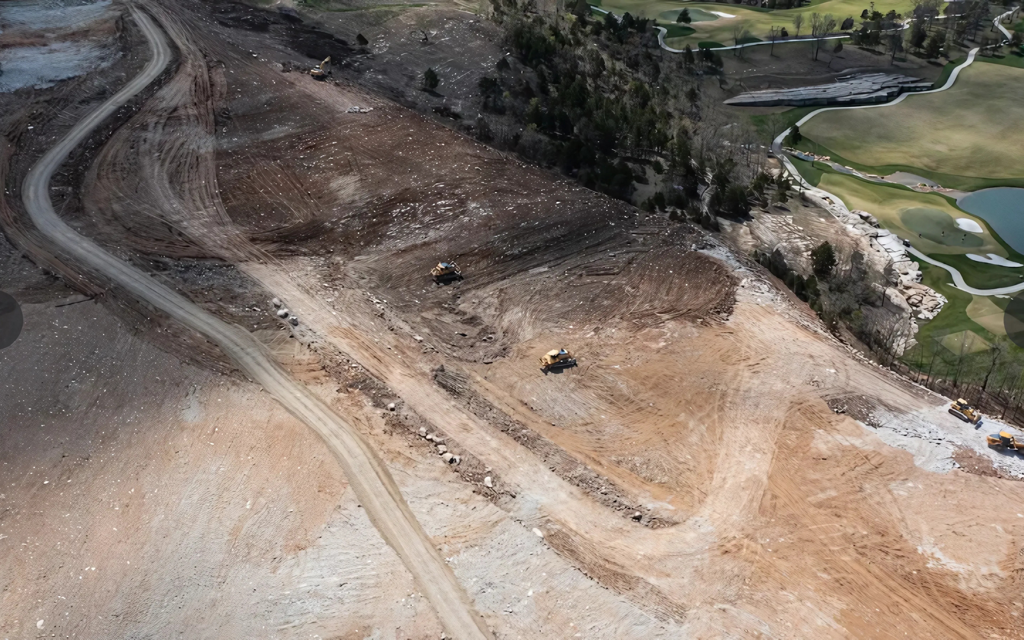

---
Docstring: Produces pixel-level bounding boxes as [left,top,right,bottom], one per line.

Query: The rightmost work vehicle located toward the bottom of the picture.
[992,428,1024,454]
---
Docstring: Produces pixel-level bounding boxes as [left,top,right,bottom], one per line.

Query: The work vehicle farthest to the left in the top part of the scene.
[310,52,338,78]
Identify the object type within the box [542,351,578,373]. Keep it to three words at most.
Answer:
work vehicle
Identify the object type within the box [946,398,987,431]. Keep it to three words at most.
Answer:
work vehicle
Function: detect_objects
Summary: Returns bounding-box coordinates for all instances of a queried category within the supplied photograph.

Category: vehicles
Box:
[542,351,578,373]
[432,263,463,283]
[310,52,338,78]
[946,398,987,431]
[992,428,1024,454]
